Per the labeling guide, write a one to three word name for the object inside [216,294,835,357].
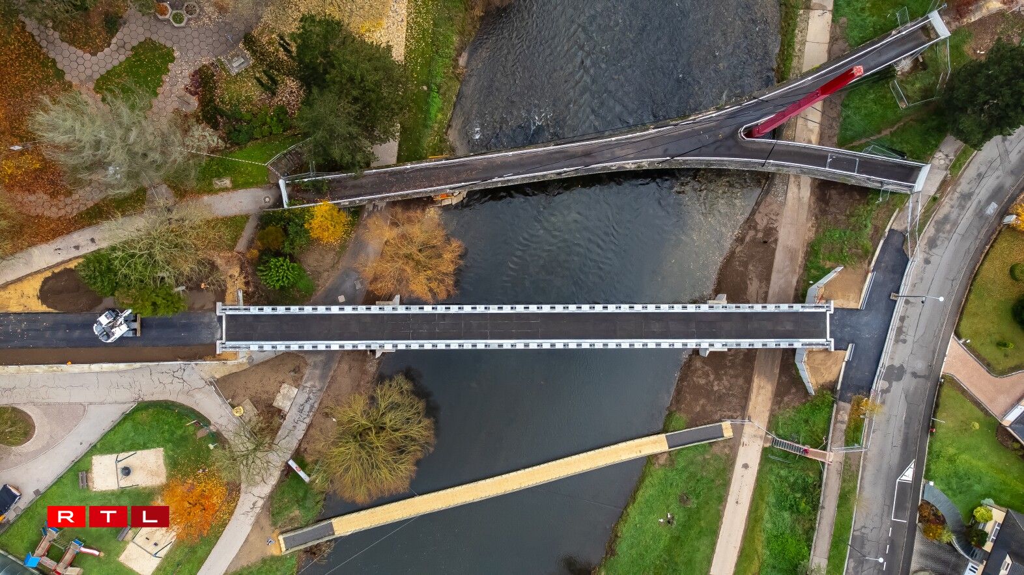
bridge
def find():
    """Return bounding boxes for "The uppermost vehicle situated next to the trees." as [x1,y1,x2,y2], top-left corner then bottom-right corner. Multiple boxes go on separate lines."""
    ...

[96,308,141,342]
